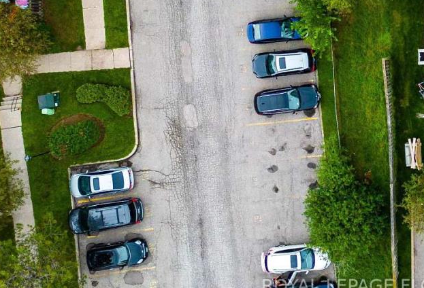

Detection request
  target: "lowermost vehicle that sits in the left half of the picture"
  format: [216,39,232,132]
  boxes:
[84,235,154,273]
